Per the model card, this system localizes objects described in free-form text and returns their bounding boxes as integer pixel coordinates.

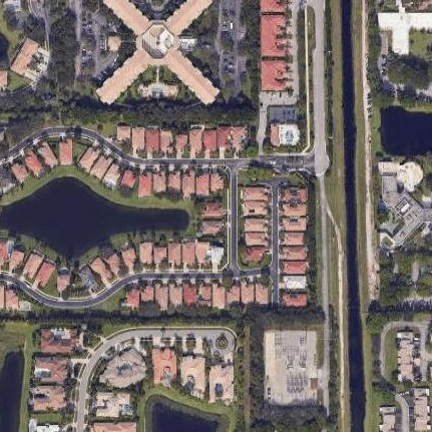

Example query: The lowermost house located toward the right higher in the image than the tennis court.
[261,60,285,90]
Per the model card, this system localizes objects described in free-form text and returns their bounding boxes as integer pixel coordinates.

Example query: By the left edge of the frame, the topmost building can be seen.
[9,37,40,75]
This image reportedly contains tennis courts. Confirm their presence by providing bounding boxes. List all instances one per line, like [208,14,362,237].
[268,106,296,122]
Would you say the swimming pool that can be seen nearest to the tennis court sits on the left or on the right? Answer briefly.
right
